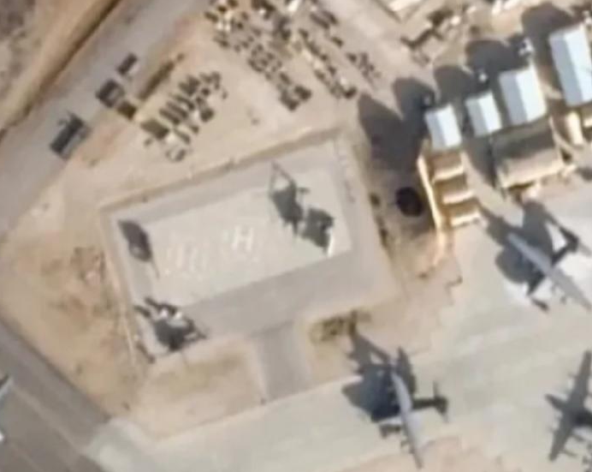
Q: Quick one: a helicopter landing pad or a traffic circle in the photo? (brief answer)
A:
helicopter landing pad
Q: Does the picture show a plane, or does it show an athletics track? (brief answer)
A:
plane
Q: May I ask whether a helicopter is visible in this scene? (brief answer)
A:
Yes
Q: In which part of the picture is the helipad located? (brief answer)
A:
center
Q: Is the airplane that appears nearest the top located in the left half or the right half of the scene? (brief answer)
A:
right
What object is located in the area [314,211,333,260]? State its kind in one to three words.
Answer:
helicopter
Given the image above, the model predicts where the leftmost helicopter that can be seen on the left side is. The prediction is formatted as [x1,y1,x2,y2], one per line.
[136,233,162,280]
